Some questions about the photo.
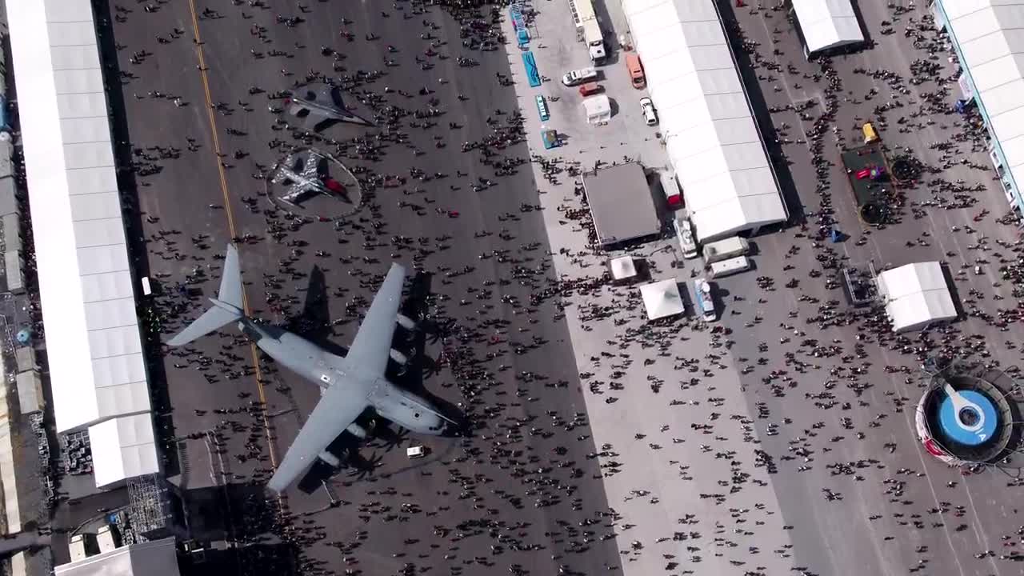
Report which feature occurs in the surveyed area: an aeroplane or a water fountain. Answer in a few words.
aeroplane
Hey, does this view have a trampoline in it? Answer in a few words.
Yes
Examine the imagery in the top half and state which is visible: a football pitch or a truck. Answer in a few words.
truck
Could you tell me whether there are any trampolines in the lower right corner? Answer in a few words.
No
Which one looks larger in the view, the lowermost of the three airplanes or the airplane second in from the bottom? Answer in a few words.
the lowermost of the three airplanes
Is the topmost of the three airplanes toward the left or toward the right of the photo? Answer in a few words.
left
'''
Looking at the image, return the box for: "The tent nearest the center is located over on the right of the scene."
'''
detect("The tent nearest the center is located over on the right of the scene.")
[609,256,637,285]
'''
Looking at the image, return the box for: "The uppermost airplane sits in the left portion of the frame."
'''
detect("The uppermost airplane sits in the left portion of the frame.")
[291,83,369,132]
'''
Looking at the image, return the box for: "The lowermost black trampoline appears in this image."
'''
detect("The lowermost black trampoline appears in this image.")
[862,202,885,224]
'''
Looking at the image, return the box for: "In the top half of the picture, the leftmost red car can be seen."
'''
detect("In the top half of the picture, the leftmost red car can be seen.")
[579,82,600,97]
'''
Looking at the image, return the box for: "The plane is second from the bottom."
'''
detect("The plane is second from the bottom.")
[271,154,353,207]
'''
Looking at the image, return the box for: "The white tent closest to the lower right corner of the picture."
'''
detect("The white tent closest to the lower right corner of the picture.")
[876,261,957,335]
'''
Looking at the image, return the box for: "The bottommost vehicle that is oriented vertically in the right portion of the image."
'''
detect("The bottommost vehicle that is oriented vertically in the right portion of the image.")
[691,279,716,324]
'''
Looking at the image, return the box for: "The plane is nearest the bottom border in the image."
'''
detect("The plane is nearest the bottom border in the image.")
[167,245,461,491]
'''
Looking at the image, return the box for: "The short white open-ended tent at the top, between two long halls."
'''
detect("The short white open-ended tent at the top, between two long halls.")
[786,0,865,60]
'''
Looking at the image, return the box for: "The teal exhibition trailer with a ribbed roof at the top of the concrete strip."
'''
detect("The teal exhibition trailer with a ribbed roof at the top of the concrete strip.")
[503,0,531,52]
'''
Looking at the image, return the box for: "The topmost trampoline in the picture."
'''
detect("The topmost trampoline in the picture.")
[892,158,916,181]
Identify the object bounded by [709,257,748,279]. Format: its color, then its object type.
white vehicle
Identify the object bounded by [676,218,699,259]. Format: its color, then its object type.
white truck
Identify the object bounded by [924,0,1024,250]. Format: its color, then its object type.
white tent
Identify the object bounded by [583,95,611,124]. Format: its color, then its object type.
white gazebo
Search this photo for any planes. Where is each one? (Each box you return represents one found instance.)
[167,245,461,491]
[271,154,353,207]
[291,83,369,132]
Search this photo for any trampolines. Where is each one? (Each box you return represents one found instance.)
[862,202,885,224]
[892,158,916,181]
